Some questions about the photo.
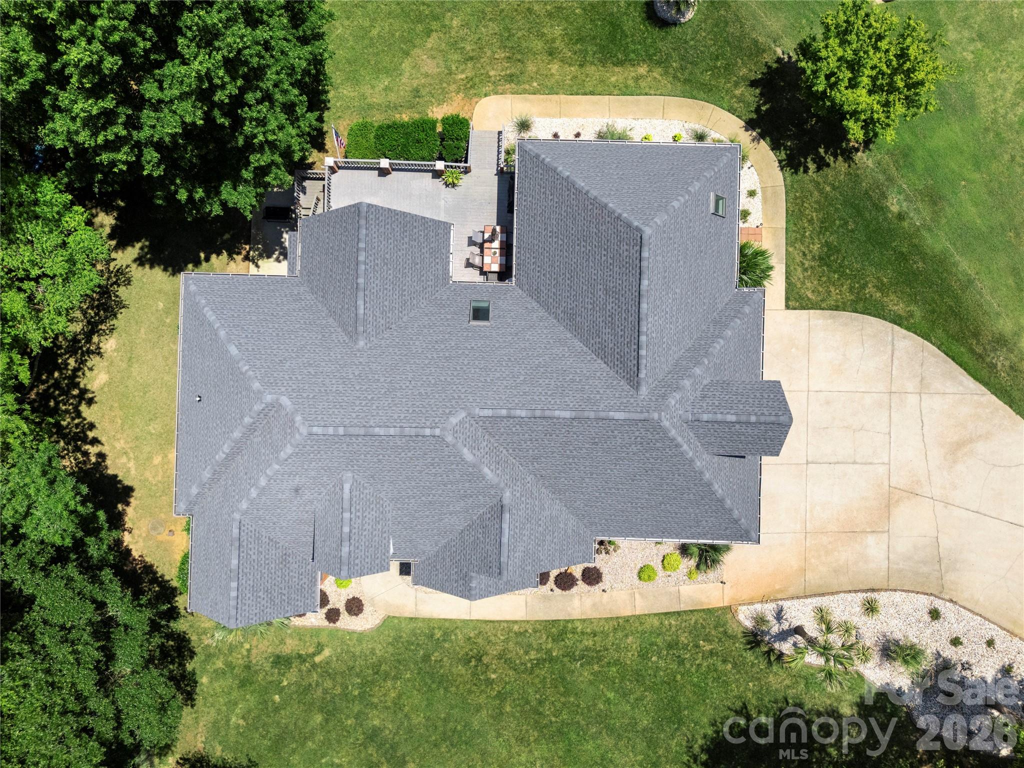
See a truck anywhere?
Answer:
No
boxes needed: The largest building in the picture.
[176,141,792,629]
